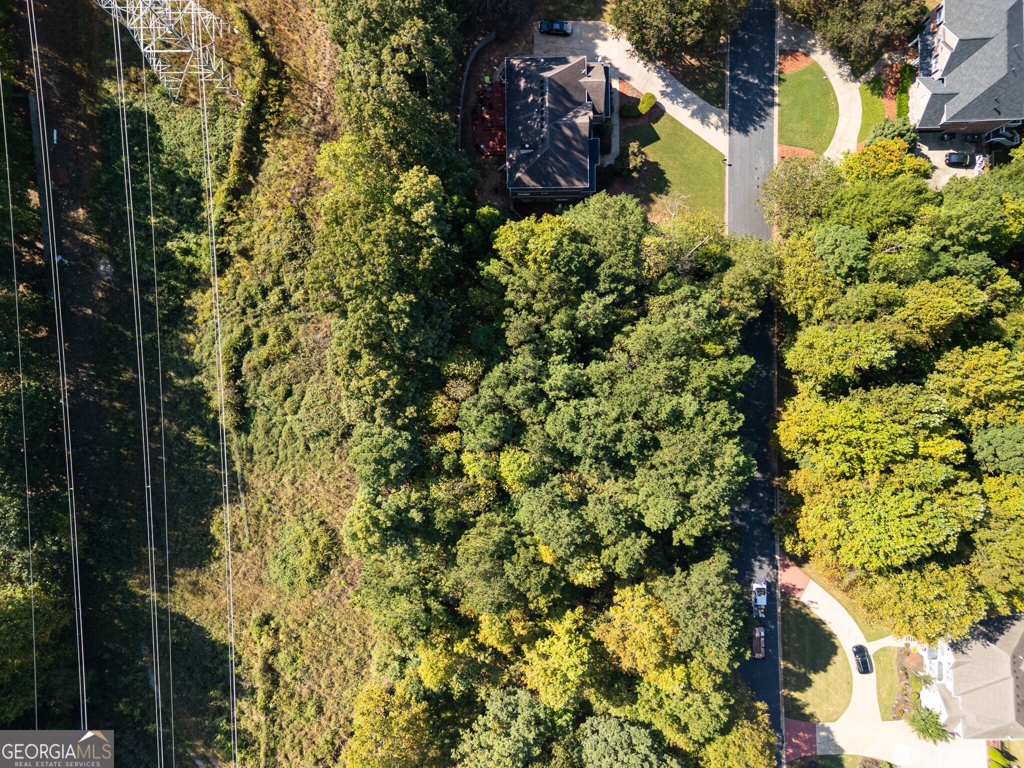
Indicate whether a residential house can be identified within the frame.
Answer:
Yes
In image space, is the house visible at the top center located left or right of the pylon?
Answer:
to the right of it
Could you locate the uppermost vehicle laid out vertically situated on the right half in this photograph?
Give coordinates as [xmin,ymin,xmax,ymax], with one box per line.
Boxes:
[751,578,768,618]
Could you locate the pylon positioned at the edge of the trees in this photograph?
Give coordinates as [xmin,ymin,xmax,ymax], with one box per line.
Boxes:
[98,0,244,105]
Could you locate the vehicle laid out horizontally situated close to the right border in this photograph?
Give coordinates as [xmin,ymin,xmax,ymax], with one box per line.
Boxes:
[943,153,974,168]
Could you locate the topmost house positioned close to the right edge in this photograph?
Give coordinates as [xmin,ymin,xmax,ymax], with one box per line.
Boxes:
[904,0,1023,135]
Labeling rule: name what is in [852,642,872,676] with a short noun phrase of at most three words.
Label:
car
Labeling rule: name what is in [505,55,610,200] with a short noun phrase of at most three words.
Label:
house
